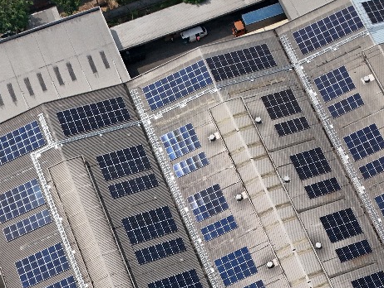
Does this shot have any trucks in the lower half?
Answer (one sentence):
No, I can find no truck in the lower half.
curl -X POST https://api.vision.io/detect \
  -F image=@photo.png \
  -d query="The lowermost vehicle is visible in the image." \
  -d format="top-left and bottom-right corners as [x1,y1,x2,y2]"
[181,31,208,50]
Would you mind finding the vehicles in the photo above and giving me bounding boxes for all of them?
[181,31,208,50]
[234,5,277,34]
